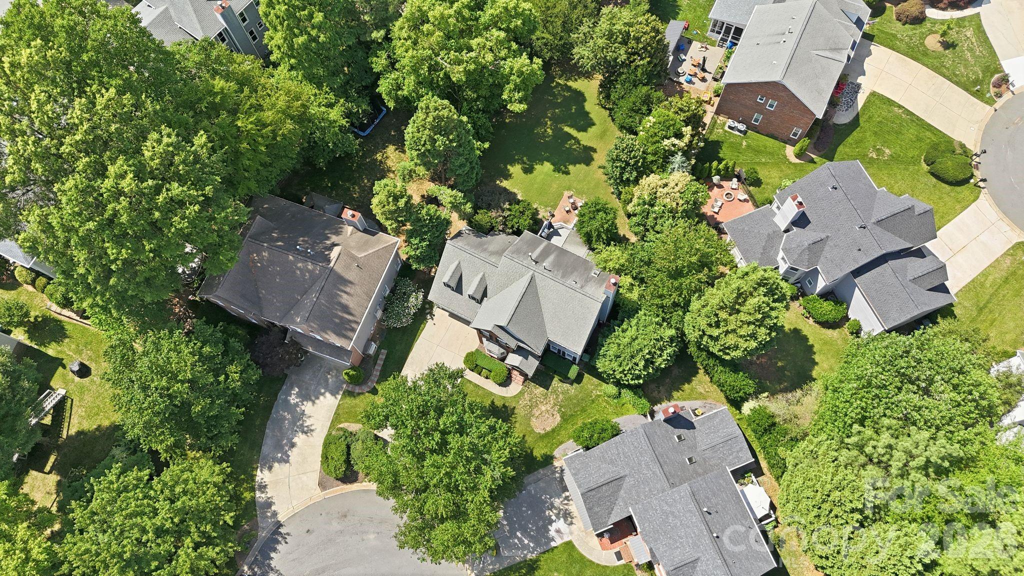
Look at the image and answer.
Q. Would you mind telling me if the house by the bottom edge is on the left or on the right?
right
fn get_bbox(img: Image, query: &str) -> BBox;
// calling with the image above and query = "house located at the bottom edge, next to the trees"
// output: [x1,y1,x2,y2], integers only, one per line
[562,403,779,576]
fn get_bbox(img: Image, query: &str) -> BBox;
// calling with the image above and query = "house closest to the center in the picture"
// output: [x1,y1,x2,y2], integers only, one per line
[427,217,622,391]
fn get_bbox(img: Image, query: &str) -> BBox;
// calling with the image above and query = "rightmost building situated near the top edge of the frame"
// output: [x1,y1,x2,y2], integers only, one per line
[705,0,871,148]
